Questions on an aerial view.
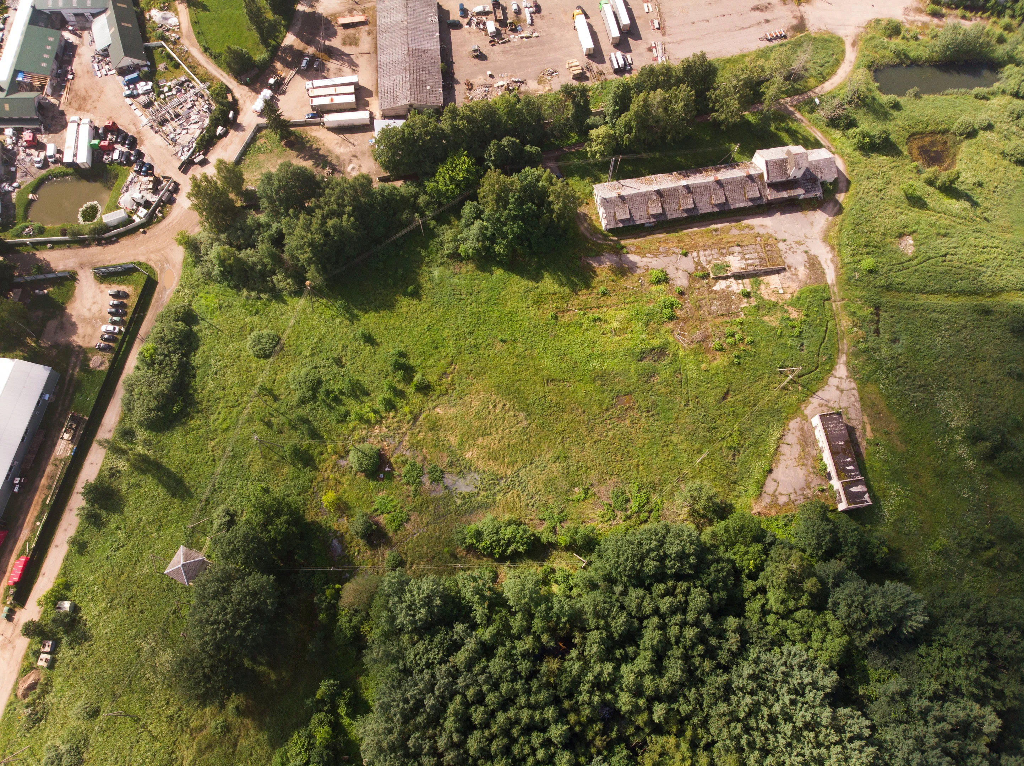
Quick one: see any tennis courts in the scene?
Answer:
No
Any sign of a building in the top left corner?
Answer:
Yes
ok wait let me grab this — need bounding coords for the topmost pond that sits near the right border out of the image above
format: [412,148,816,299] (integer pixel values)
[872,61,997,99]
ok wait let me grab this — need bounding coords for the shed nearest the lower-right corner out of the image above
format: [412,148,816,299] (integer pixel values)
[812,411,873,510]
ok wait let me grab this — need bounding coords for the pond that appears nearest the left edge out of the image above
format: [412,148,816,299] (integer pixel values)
[29,176,112,227]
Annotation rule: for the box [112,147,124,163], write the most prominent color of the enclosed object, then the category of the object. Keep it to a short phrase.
white vehicle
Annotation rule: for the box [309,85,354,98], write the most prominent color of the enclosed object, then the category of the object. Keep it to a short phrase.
white vehicle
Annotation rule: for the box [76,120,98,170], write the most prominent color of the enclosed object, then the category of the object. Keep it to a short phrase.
white truck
